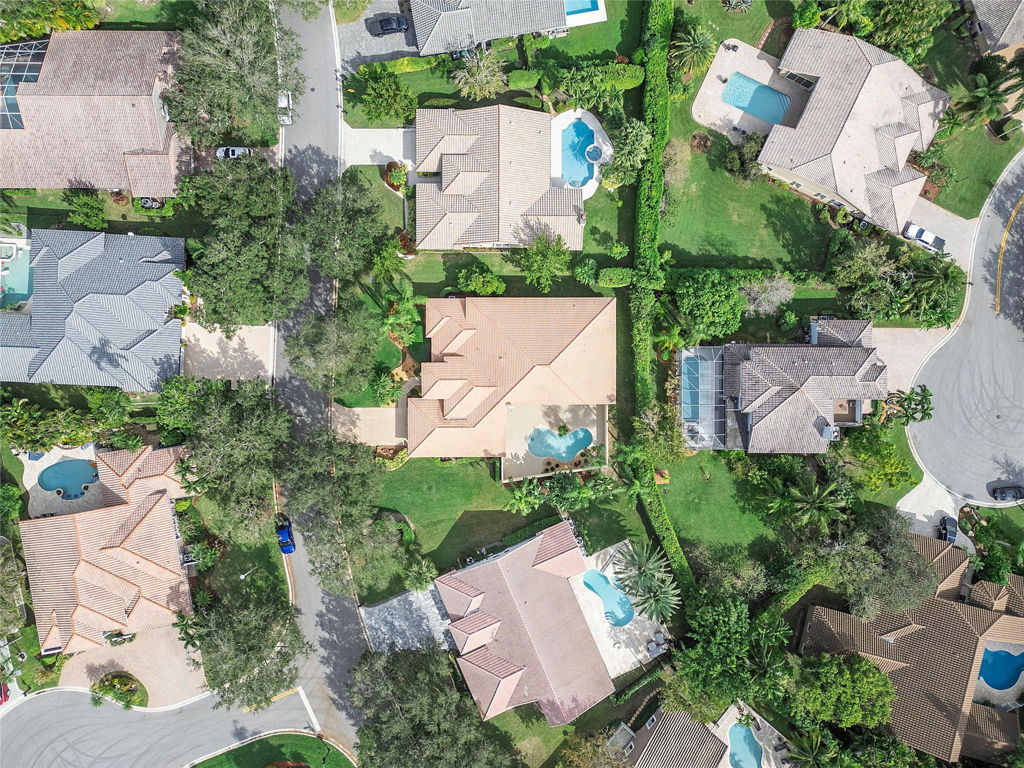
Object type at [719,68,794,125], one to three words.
swimming pool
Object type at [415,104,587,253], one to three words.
house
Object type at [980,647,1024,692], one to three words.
swimming pool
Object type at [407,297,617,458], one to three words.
house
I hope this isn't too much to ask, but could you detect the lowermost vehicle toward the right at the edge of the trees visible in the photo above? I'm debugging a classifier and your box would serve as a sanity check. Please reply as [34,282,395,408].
[935,511,959,546]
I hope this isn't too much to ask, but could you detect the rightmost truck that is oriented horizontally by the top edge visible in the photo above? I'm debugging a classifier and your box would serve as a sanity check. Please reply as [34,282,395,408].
[365,16,411,40]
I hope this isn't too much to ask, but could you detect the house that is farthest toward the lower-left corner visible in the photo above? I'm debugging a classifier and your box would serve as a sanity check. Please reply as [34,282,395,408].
[19,445,200,655]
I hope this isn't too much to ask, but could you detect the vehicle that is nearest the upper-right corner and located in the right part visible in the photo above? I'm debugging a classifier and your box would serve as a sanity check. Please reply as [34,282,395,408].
[901,223,948,256]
